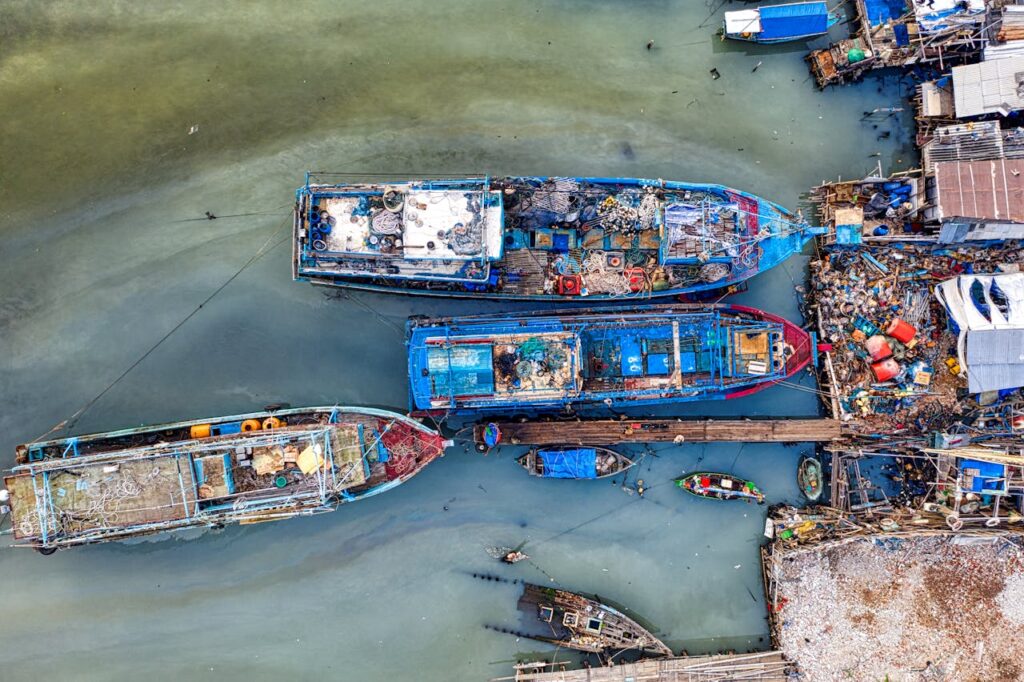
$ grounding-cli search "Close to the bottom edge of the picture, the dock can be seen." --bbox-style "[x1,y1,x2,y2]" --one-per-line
[505,648,784,682]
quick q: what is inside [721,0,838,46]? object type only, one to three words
boat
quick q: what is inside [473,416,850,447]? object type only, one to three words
pier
